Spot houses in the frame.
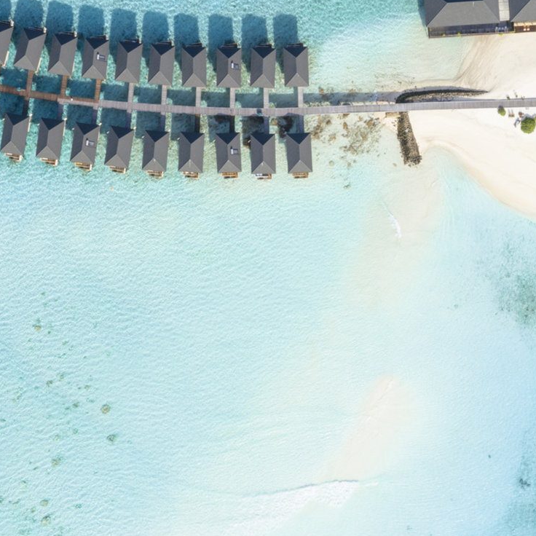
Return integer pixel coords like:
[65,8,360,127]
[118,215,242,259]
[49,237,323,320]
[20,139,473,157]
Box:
[36,117,68,166]
[105,126,137,174]
[282,40,310,88]
[82,32,112,81]
[0,18,18,67]
[141,130,171,178]
[0,113,33,162]
[115,36,146,85]
[181,41,208,89]
[214,131,241,179]
[69,122,102,170]
[424,0,514,38]
[283,131,313,179]
[14,24,51,73]
[248,41,277,90]
[214,41,242,89]
[178,132,206,179]
[48,28,81,77]
[248,132,275,180]
[147,39,176,86]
